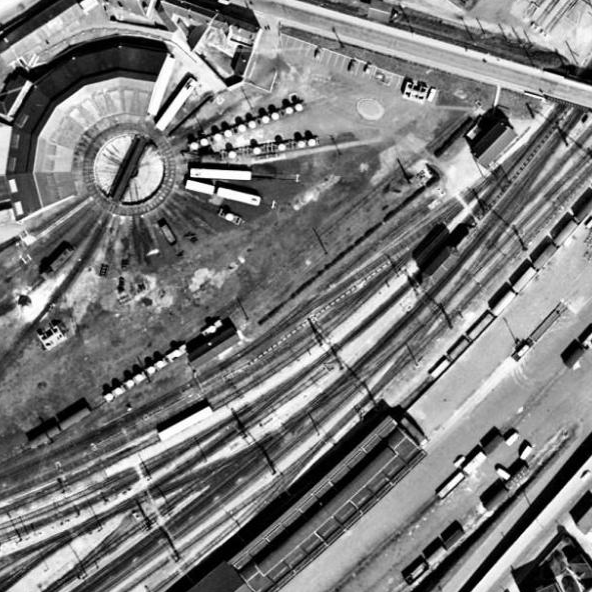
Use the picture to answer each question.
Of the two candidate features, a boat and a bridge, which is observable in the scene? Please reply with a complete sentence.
This aerial view contains a bridge.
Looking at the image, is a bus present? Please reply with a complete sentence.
Yes, I can see a bus in this picture.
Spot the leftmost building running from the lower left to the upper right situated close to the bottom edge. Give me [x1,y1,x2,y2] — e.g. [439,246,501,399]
[228,414,425,592]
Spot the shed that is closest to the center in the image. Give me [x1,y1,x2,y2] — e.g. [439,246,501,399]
[189,321,243,370]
